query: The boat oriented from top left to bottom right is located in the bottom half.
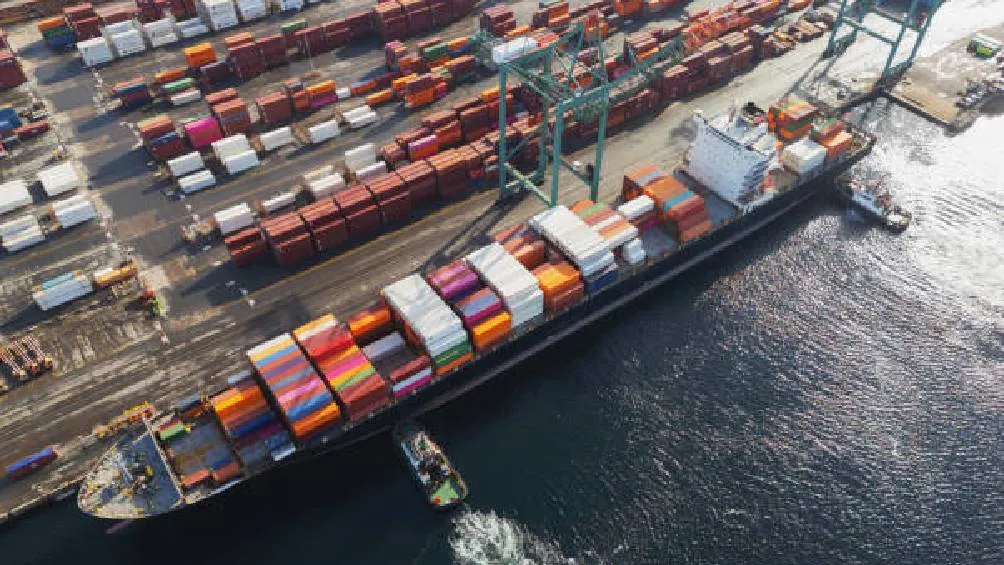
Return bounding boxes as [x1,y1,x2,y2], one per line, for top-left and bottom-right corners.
[391,422,466,507]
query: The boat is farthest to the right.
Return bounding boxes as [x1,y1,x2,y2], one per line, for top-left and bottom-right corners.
[842,173,906,234]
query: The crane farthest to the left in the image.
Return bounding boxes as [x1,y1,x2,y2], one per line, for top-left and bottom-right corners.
[485,15,700,208]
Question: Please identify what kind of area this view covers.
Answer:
port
